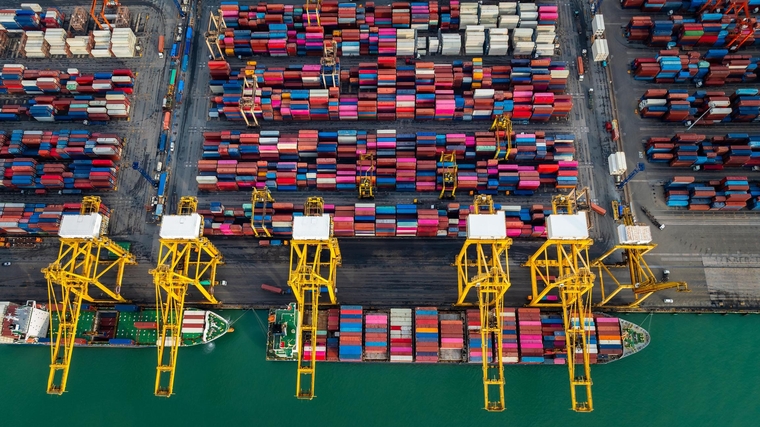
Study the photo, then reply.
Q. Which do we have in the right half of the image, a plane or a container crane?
container crane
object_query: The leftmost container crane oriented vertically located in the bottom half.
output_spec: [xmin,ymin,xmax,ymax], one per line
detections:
[45,192,140,396]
